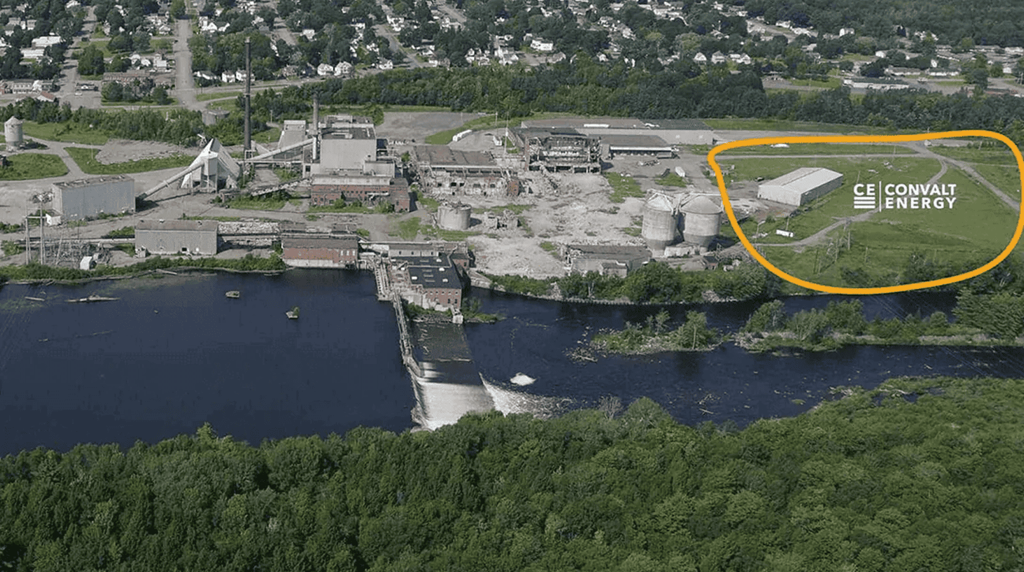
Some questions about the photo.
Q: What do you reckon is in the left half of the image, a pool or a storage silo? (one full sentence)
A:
The one visible in the left half of the image is a storage silo.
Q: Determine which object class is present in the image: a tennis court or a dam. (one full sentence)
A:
Visible in the photo is a dam.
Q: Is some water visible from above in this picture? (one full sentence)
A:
Yes, some water is visible.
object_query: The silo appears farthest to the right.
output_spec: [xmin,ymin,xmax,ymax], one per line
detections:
[682,197,724,251]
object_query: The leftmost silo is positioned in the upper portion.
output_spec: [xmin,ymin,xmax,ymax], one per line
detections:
[1,114,24,148]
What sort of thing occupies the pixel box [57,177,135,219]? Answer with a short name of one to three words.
building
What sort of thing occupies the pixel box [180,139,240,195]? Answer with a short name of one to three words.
house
